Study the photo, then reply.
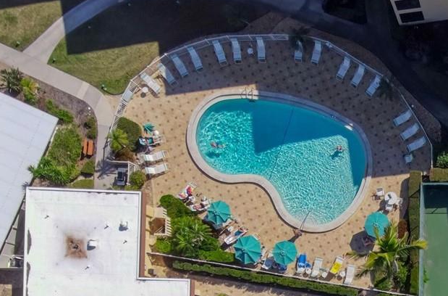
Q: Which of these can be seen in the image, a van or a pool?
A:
pool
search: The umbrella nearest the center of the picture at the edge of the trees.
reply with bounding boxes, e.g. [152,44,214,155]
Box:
[207,202,233,227]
